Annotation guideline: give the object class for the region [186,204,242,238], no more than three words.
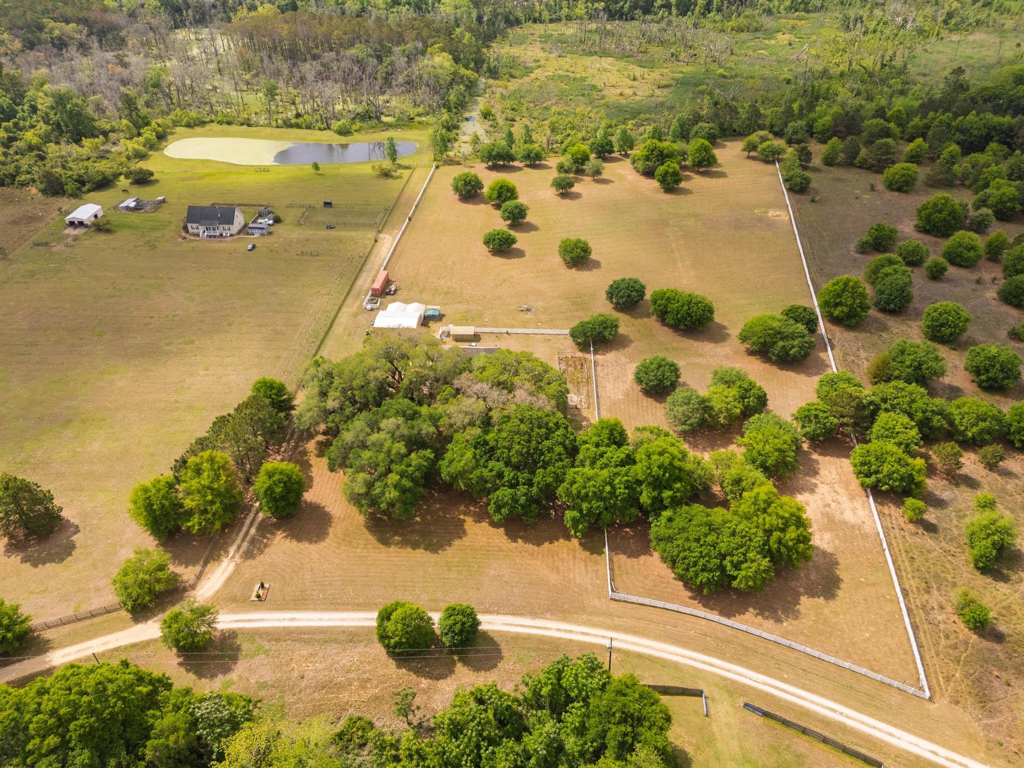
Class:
house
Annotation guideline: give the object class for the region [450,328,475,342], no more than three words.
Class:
shed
